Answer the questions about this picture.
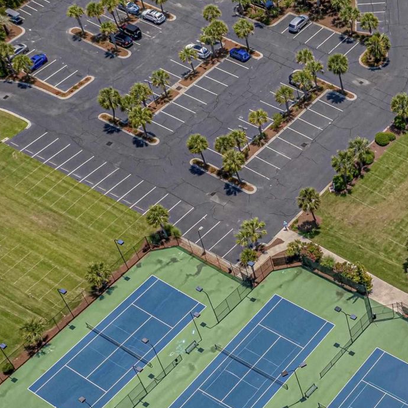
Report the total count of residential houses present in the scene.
none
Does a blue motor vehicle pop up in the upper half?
Yes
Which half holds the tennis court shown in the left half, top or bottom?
bottom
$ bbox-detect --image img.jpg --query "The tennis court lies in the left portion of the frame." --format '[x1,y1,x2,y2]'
[0,246,253,408]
